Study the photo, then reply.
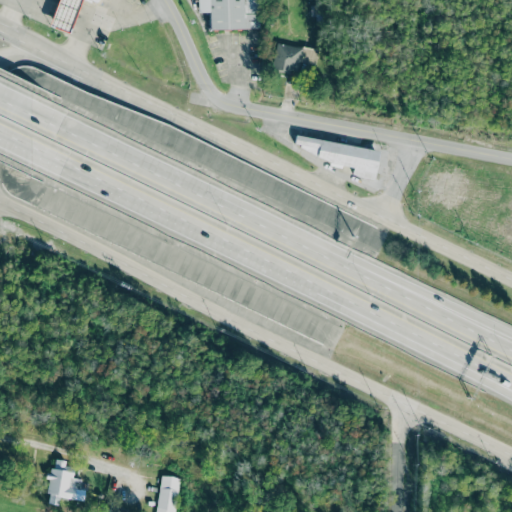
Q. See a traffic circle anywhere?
No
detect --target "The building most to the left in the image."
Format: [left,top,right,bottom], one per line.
[45,458,80,500]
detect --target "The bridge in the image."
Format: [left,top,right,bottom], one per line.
[0,68,72,181]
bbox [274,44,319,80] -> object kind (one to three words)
house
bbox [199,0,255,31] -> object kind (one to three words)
building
